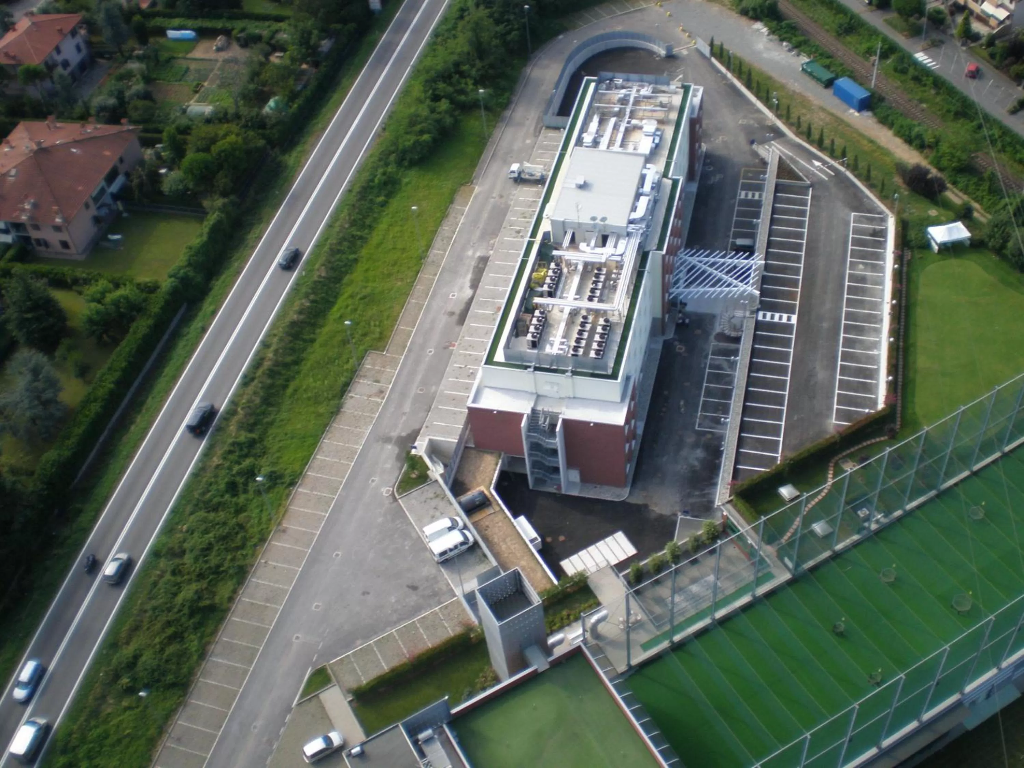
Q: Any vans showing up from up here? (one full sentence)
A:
Yes, a van appears in the view.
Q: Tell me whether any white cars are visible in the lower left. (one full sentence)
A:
Yes, a white car can be seen in the lower left.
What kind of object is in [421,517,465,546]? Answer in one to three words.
van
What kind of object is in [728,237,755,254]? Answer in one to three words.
car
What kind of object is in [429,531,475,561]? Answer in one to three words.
van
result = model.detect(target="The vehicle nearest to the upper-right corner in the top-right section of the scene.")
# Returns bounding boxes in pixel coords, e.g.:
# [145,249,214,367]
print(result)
[966,64,980,79]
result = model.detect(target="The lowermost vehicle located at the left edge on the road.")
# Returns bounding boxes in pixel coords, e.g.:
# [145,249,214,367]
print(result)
[5,716,48,765]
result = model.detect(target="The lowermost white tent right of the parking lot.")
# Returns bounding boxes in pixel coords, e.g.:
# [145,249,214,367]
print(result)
[925,222,971,256]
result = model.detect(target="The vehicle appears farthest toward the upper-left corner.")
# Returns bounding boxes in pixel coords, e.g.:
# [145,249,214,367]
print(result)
[279,250,299,270]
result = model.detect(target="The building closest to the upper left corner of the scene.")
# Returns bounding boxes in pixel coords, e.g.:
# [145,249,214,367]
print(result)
[0,9,90,94]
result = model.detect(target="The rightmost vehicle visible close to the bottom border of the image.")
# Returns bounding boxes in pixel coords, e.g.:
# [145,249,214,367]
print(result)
[300,731,347,768]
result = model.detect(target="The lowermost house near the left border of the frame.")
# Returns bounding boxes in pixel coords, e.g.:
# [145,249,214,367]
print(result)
[0,120,150,258]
